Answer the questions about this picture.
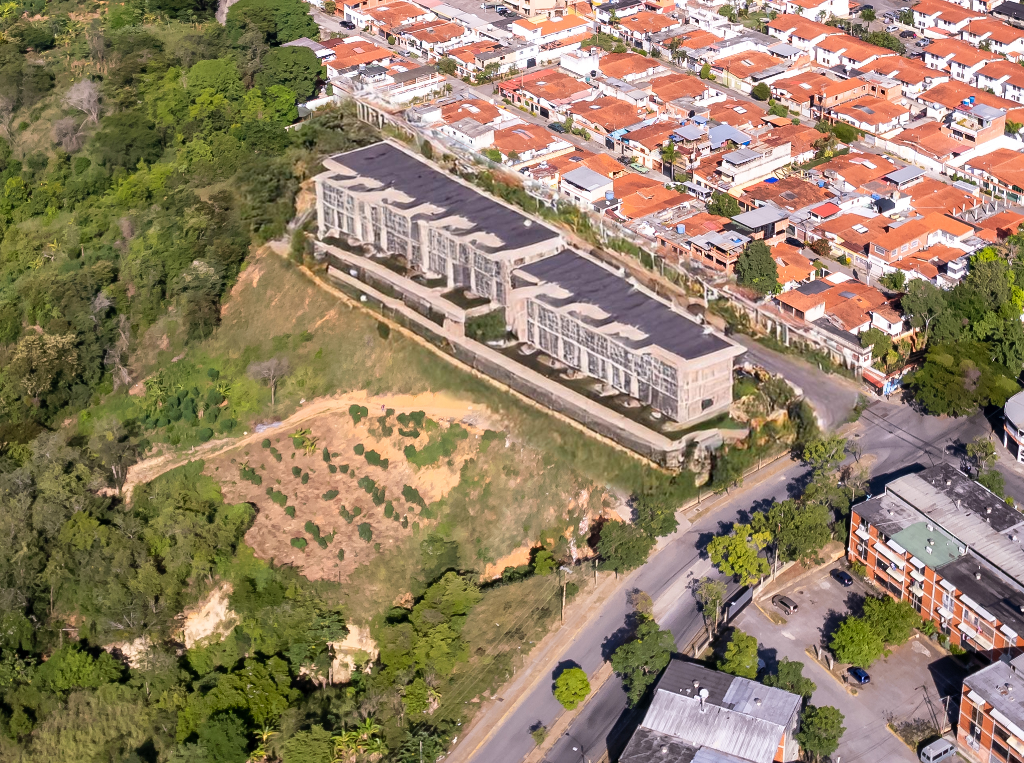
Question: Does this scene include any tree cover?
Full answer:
Yes, some tree cover is visible.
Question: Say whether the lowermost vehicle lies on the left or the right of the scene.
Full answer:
The lowermost vehicle is on the right side of the image.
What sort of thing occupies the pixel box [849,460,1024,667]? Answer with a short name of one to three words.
building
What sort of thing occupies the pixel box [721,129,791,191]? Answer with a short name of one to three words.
house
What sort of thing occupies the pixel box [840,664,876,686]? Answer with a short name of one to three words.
car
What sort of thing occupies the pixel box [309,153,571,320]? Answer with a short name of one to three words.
building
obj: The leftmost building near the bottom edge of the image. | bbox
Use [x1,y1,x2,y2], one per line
[620,656,811,763]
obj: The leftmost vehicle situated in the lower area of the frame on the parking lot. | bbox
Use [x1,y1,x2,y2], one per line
[768,593,802,614]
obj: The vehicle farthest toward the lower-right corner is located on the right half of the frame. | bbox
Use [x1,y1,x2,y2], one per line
[916,736,960,763]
